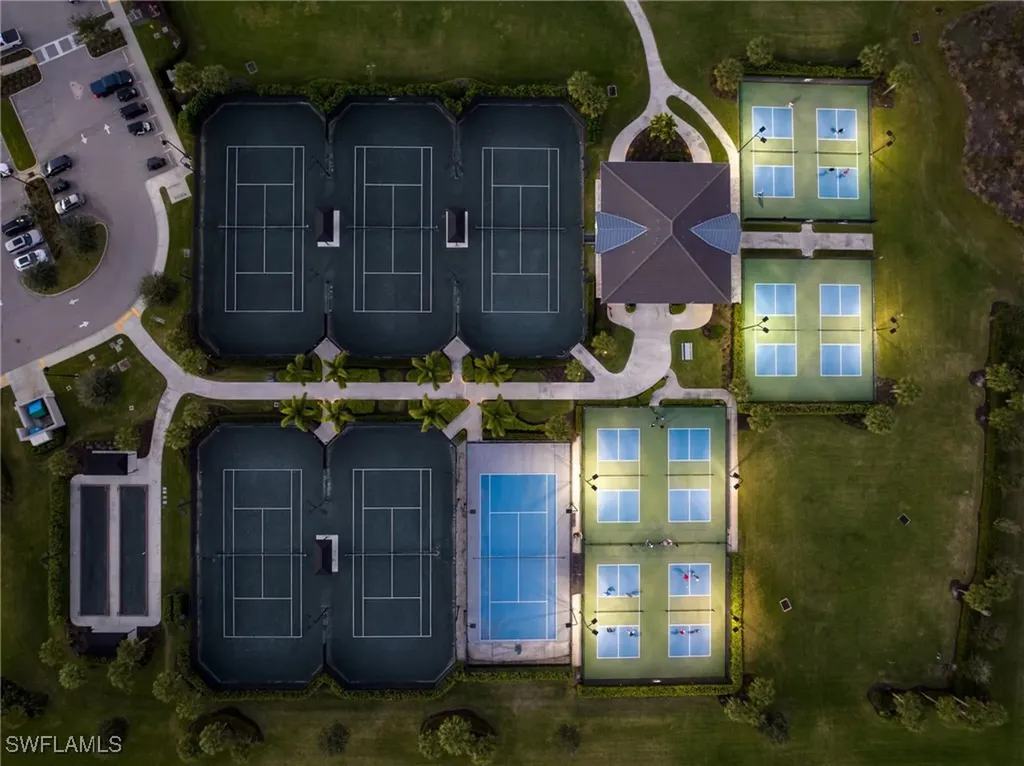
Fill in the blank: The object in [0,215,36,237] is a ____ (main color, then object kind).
black car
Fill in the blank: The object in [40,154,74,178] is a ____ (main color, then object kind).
black car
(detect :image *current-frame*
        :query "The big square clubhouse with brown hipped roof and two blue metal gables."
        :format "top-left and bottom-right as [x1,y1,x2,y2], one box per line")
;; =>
[595,161,740,305]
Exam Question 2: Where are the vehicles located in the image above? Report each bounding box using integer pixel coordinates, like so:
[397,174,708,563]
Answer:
[117,101,150,122]
[0,30,18,53]
[12,248,50,270]
[55,193,87,215]
[0,215,36,237]
[3,231,44,254]
[89,71,135,98]
[144,155,169,172]
[40,154,74,178]
[114,85,140,104]
[49,177,73,195]
[126,120,154,138]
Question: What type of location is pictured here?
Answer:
sports ground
